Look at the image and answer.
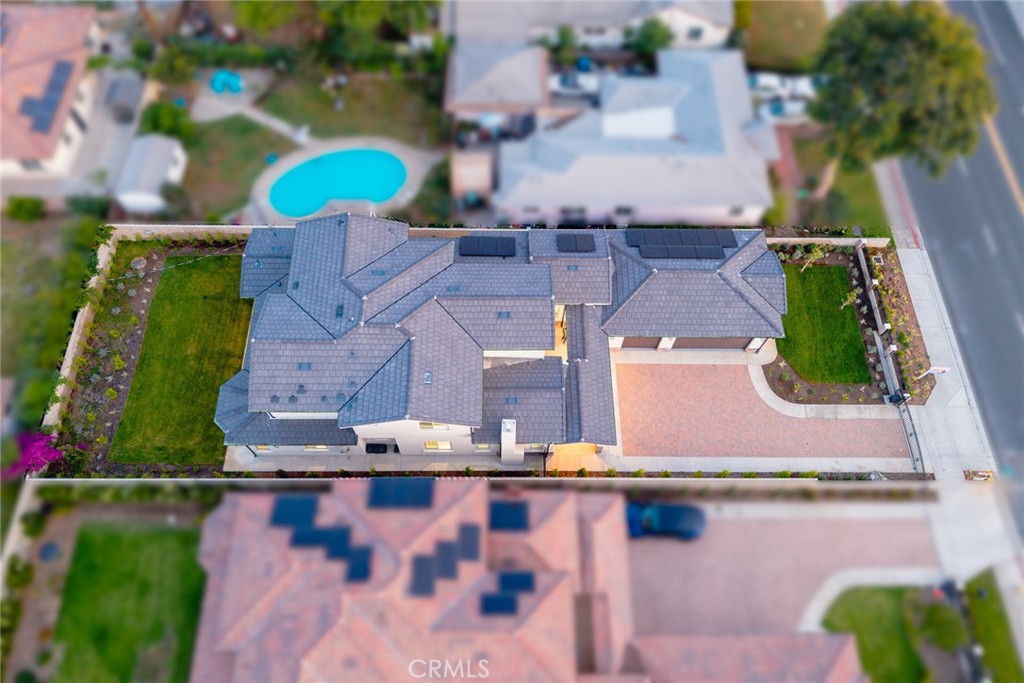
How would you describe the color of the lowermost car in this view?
blue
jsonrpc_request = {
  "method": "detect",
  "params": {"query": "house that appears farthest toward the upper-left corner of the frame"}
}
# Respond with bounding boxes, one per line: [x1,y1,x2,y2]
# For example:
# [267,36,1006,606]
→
[0,0,122,186]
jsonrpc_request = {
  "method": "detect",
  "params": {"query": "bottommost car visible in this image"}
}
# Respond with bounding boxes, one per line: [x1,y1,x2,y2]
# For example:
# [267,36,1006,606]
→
[625,498,708,542]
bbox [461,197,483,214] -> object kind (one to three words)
umbrella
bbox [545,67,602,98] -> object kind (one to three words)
car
